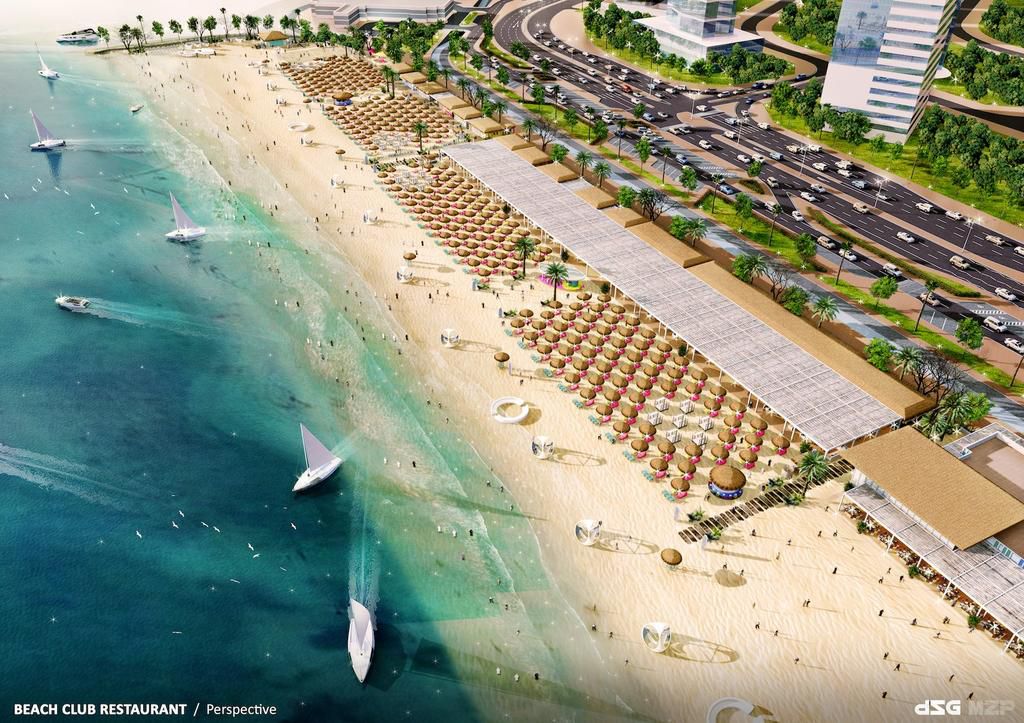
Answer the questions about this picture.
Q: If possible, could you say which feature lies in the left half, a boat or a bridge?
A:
boat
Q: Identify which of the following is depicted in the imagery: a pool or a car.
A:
car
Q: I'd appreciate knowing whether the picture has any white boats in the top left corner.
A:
Yes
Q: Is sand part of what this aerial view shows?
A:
Yes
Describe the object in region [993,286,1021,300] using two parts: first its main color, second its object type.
white car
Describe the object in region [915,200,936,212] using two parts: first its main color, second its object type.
white vehicle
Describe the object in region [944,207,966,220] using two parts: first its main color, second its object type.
white vehicle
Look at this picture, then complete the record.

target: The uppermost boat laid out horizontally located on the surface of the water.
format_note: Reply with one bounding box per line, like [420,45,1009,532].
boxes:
[55,28,98,41]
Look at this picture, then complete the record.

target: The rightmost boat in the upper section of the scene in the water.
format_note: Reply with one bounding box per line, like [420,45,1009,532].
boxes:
[165,199,206,238]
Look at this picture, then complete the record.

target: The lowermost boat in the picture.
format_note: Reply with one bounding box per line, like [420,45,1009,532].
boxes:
[351,602,379,681]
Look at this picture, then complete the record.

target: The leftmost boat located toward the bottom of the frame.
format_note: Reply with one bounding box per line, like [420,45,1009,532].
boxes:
[292,429,344,491]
